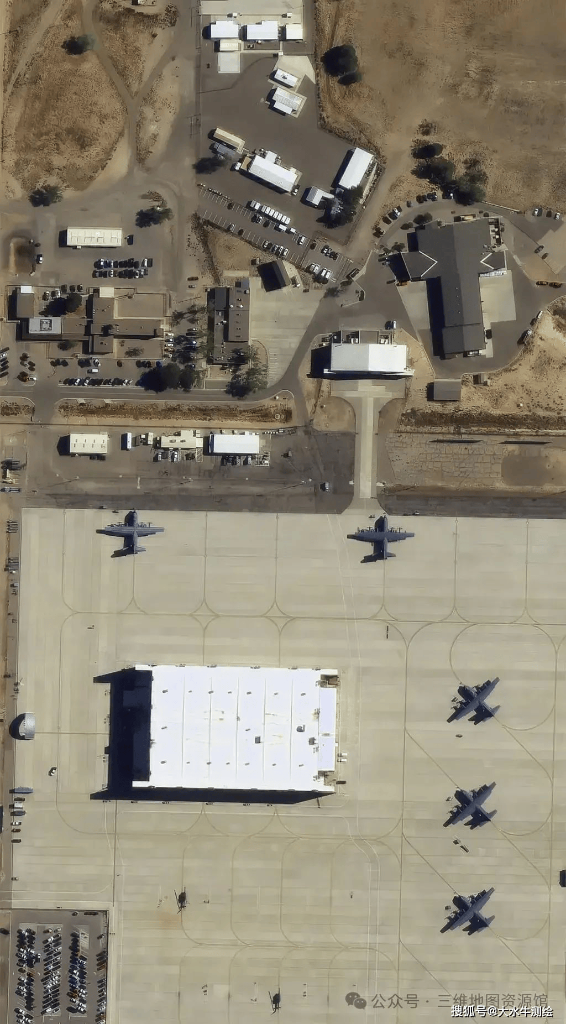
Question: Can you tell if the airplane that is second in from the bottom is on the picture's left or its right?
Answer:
right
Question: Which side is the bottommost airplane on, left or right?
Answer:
right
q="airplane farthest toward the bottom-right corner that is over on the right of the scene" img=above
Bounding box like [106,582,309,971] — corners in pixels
[451,887,497,934]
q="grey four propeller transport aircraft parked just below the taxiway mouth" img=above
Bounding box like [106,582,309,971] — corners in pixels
[356,516,416,559]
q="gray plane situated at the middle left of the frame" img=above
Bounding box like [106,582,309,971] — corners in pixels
[105,511,164,555]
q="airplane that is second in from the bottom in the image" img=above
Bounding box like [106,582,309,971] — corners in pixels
[452,782,499,829]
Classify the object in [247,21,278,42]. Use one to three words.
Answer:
shed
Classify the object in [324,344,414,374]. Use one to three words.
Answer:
hangar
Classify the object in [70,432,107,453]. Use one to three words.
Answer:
shed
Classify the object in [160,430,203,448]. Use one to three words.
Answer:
building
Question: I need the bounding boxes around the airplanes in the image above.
[451,887,497,934]
[356,516,416,559]
[105,511,164,555]
[452,782,499,829]
[456,677,503,724]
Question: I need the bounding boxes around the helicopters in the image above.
[277,988,282,1010]
[182,887,187,909]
